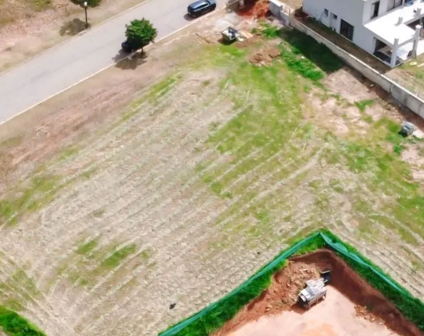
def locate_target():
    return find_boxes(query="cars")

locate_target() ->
[185,0,216,19]
[120,38,152,55]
